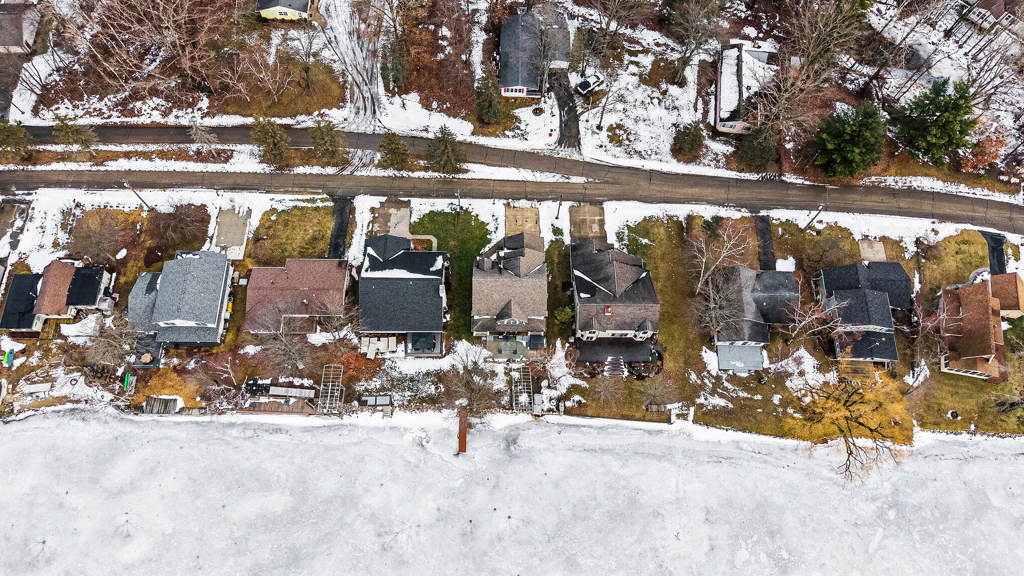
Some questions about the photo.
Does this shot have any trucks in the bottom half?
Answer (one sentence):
No, I can find no truck in the bottom half.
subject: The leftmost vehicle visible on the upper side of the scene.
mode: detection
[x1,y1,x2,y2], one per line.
[576,73,606,97]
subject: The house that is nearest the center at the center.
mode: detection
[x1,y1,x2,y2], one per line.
[471,233,549,360]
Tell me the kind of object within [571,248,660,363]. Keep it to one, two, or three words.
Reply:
house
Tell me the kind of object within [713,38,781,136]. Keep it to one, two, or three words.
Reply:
house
